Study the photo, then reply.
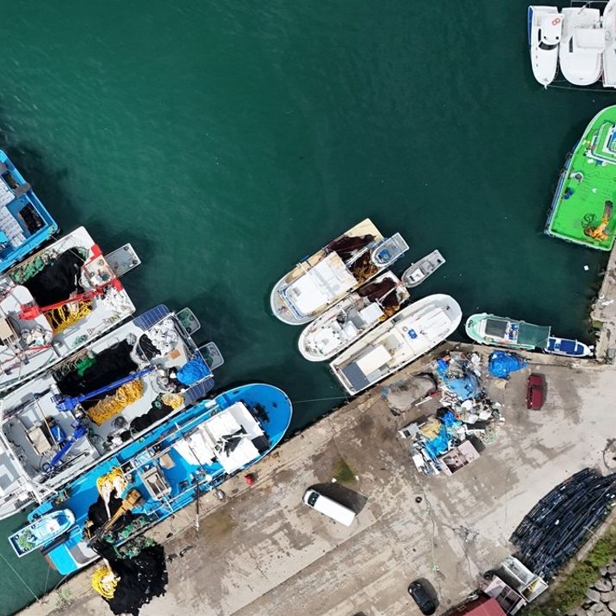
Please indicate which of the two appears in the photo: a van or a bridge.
van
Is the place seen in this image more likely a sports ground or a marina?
marina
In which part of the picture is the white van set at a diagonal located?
bottom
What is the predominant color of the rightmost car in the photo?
red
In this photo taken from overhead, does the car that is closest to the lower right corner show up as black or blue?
black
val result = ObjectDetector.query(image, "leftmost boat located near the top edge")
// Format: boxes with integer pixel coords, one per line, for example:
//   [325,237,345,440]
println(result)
[524,6,563,91]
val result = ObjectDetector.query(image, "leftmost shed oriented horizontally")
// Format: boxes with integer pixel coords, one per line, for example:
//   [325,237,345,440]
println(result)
[447,589,506,616]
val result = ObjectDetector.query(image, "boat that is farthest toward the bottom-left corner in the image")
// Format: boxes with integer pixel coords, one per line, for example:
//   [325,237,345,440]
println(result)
[11,511,77,555]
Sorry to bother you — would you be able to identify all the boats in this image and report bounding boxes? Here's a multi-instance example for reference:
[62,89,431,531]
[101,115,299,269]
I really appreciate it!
[538,104,616,252]
[542,337,591,356]
[104,245,140,275]
[299,273,409,362]
[29,390,293,575]
[271,219,394,319]
[556,1,611,87]
[524,6,563,91]
[0,305,222,519]
[371,235,408,265]
[597,1,616,88]
[402,250,445,285]
[0,153,56,268]
[0,230,134,393]
[462,314,550,349]
[330,300,462,395]
[11,511,77,555]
